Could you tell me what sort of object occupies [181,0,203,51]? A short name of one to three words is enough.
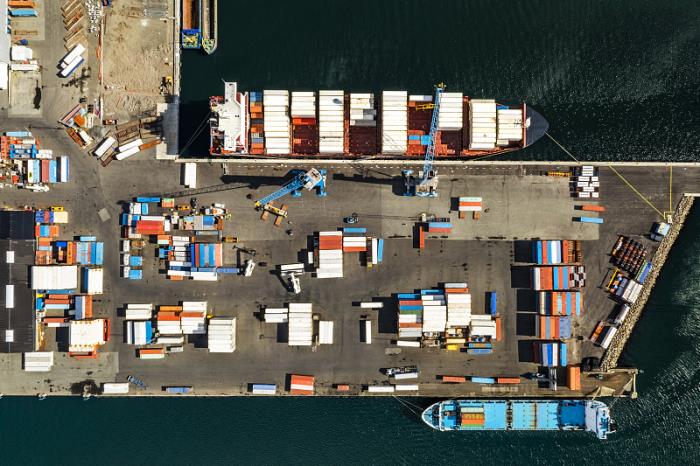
ship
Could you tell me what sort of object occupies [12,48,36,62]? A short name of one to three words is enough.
building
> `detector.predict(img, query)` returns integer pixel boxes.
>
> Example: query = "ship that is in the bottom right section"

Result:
[421,398,619,439]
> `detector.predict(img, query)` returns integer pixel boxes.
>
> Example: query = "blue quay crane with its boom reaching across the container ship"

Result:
[403,81,446,201]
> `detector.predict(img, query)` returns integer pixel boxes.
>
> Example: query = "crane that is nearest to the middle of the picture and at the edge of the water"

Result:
[252,164,328,212]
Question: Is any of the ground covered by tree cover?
No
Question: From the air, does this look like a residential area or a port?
port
